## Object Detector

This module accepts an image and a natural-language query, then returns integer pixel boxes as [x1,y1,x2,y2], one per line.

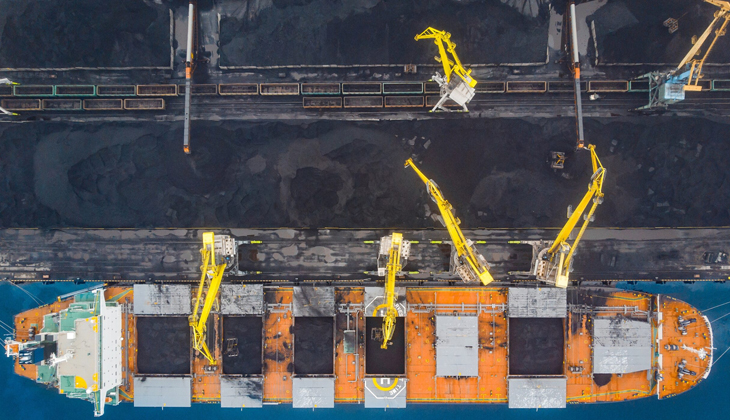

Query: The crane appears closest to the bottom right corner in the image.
[510,145,607,287]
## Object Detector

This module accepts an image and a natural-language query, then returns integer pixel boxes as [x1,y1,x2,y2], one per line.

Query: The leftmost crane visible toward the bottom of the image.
[187,232,261,365]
